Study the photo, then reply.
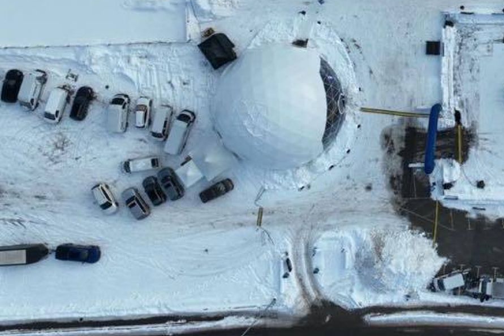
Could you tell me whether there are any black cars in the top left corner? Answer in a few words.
Yes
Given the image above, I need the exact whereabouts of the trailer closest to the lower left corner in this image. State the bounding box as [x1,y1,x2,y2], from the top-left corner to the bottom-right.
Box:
[0,243,54,268]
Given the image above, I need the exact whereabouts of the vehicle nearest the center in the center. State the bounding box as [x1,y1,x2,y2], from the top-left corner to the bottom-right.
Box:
[198,177,237,202]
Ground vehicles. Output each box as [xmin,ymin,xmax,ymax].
[140,173,170,207]
[198,177,237,202]
[16,69,49,109]
[123,184,154,220]
[151,104,176,140]
[135,96,155,128]
[91,180,122,215]
[125,154,162,174]
[160,106,199,157]
[45,84,75,124]
[434,267,470,291]
[106,93,134,134]
[53,241,103,265]
[158,164,188,201]
[0,68,28,104]
[70,85,99,122]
